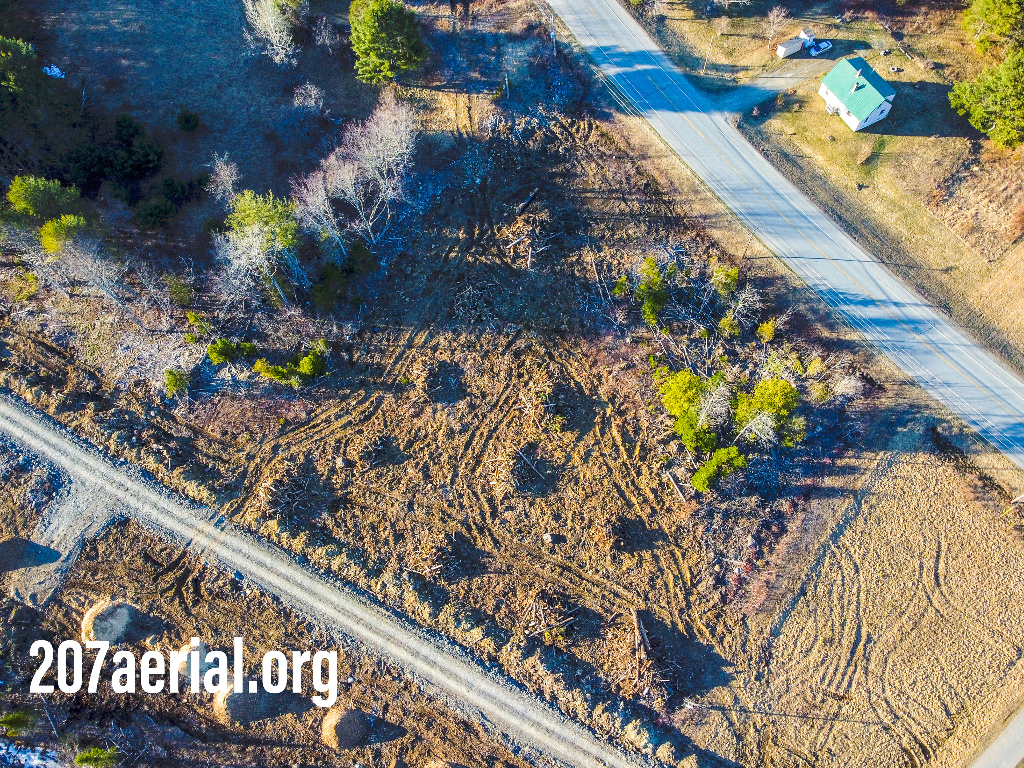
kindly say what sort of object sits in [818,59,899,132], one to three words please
house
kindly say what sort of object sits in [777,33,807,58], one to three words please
shed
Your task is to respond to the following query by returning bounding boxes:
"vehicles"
[810,40,836,56]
